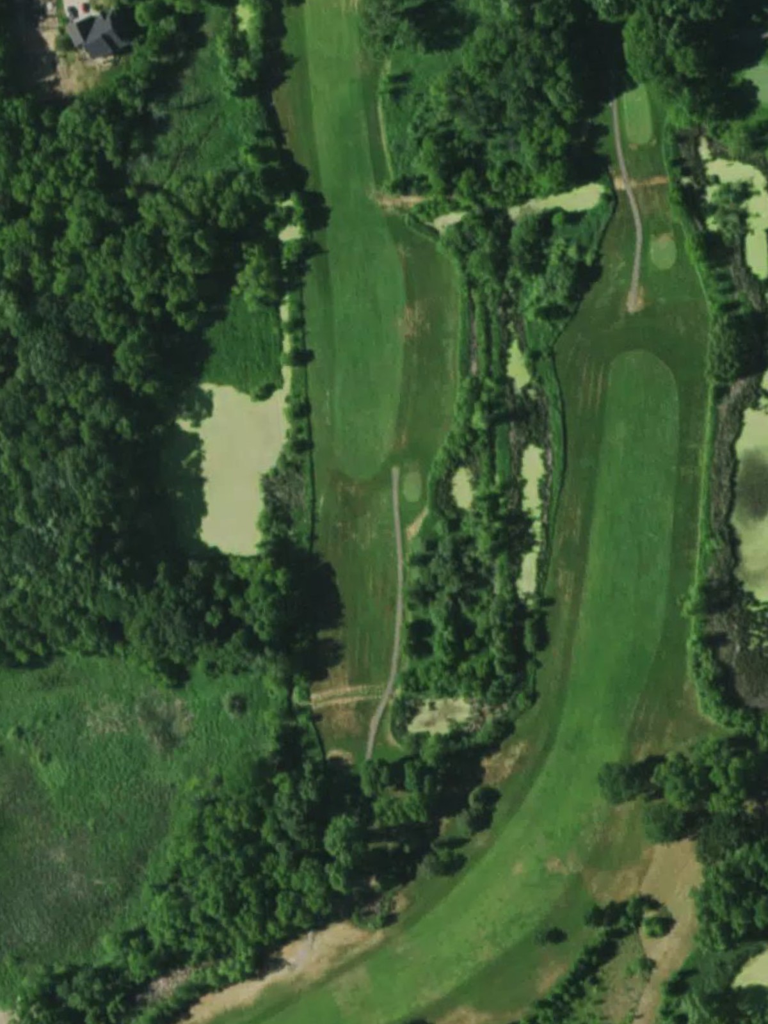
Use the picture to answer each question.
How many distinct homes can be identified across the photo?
1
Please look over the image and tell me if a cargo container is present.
No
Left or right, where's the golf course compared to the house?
right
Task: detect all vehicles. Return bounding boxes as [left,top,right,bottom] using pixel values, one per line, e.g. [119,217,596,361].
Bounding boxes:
[81,3,86,13]
[69,5,76,16]
[47,1,52,11]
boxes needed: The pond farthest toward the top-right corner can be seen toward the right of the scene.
[699,135,768,279]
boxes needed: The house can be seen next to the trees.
[67,17,126,58]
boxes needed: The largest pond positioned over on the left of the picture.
[170,276,292,558]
